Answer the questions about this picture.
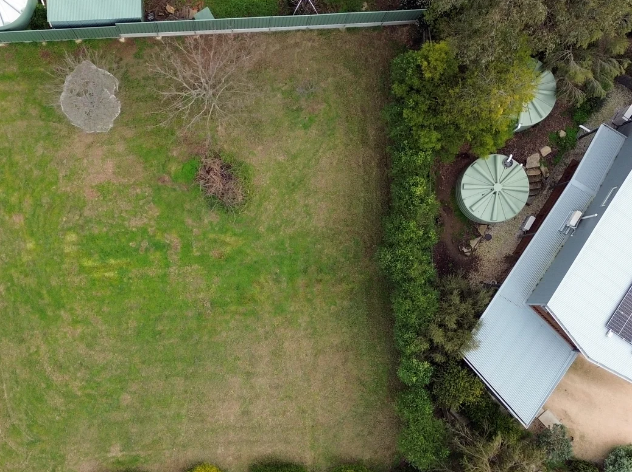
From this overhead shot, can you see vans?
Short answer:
No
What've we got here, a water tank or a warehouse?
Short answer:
water tank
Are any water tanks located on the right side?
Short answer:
Yes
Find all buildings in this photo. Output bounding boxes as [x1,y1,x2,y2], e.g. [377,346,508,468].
[46,0,143,29]
[452,112,632,428]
